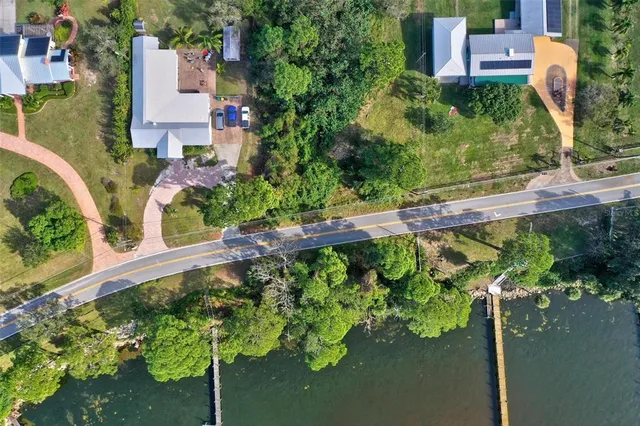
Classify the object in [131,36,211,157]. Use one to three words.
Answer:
house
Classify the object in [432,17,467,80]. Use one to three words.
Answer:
building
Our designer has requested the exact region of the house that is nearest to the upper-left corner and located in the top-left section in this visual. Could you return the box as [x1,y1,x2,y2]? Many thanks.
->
[0,24,79,94]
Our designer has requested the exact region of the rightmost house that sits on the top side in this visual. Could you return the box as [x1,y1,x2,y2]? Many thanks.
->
[464,0,562,86]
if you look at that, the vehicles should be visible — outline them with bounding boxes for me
[226,106,236,128]
[240,106,249,129]
[215,109,224,130]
